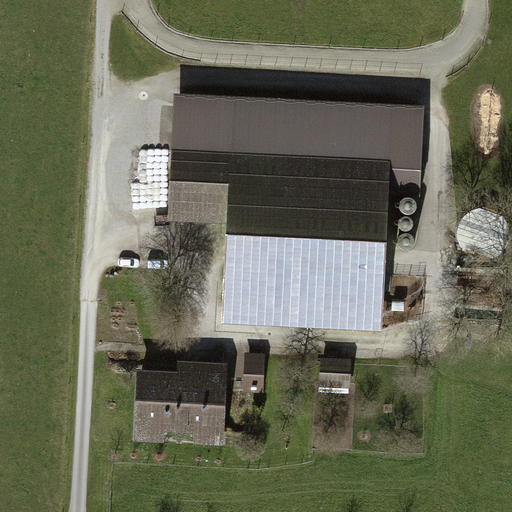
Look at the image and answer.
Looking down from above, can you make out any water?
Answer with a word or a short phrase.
No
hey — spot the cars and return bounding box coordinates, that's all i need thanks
[118,256,138,268]
[148,258,168,269]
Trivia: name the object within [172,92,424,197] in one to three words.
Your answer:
barn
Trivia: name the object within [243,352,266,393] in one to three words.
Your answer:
shed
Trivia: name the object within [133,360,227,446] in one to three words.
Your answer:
house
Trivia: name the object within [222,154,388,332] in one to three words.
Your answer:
barn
